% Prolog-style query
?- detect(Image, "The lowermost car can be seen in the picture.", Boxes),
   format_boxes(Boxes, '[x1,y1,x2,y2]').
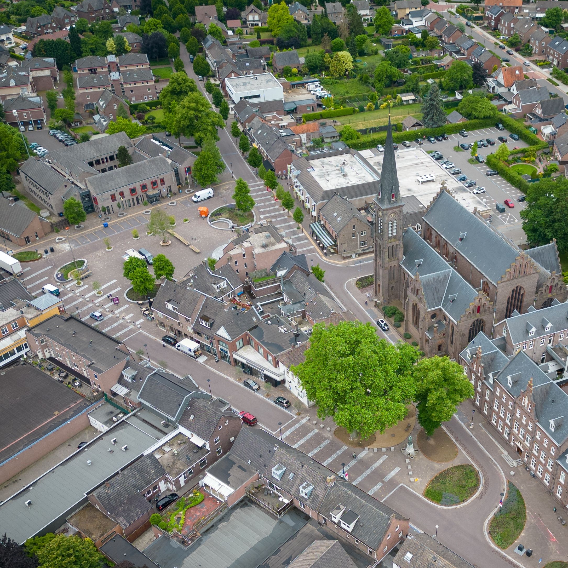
[152,494,181,511]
